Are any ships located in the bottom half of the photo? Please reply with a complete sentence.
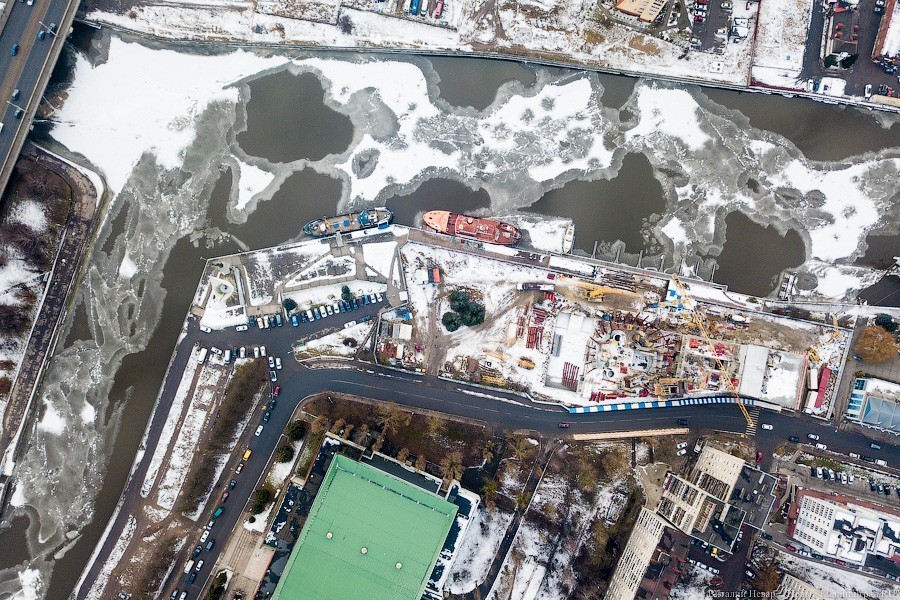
No, there is no ship in the bottom half of the photo.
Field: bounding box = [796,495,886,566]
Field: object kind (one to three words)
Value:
building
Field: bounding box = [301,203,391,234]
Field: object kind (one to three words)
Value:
ship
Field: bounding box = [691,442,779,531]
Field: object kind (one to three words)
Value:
building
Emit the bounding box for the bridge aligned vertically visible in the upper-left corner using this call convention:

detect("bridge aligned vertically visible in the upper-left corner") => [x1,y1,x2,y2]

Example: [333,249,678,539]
[0,0,84,215]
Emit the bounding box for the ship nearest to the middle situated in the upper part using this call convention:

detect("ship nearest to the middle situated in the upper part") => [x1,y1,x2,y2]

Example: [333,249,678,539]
[424,209,522,248]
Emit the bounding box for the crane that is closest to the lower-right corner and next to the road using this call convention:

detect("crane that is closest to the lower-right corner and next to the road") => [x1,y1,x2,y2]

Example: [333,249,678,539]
[650,275,753,430]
